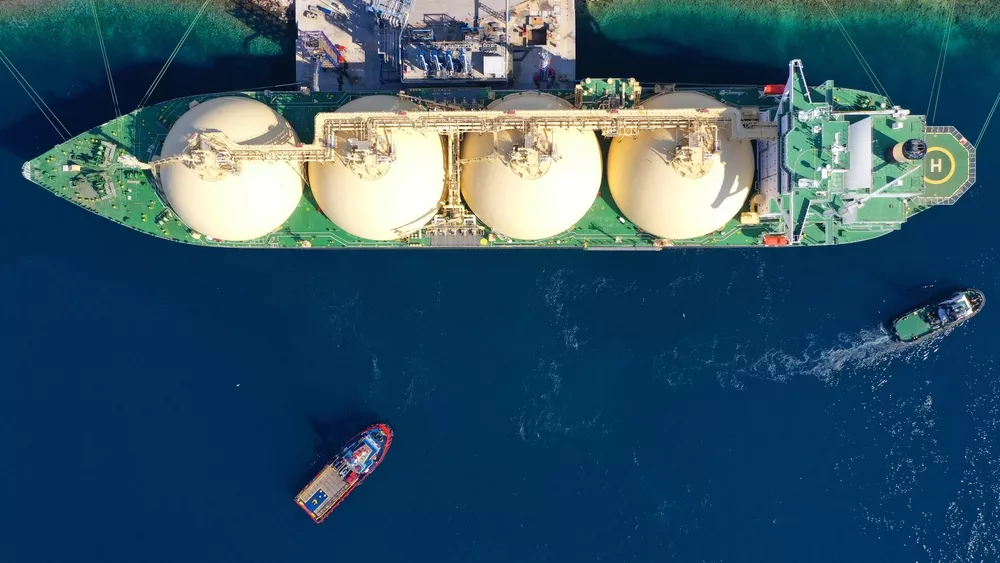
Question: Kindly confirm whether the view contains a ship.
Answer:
Yes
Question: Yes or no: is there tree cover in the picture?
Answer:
No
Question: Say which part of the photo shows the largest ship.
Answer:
top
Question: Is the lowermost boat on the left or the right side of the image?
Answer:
left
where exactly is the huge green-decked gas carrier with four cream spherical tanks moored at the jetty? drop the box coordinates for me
[17,58,977,250]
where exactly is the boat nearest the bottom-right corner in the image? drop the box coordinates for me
[893,293,989,345]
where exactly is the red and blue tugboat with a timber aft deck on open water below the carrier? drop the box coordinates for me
[295,422,394,522]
